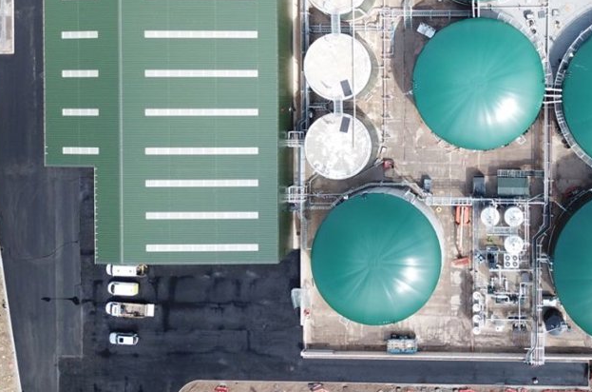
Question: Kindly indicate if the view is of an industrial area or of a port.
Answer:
industrial area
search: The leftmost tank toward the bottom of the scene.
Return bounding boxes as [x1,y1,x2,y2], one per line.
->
[308,185,443,324]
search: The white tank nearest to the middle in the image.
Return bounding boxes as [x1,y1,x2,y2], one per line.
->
[305,112,376,178]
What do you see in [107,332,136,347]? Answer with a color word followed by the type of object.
white car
